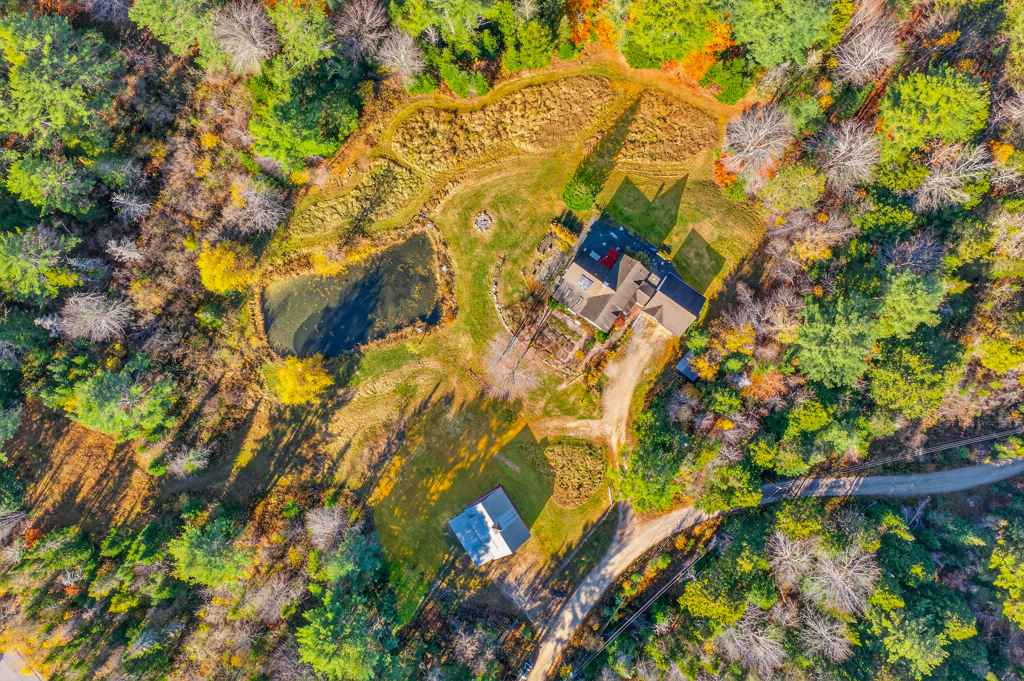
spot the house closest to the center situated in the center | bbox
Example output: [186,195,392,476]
[551,250,655,333]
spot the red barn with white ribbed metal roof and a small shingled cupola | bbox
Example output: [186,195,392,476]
[448,483,531,567]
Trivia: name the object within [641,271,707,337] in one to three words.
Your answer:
building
